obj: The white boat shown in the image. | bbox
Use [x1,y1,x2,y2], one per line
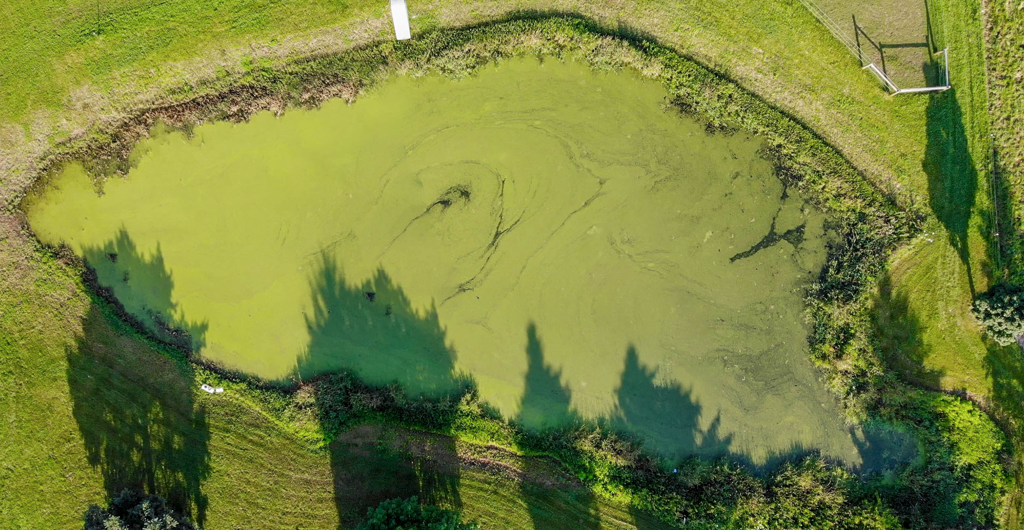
[391,0,412,38]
